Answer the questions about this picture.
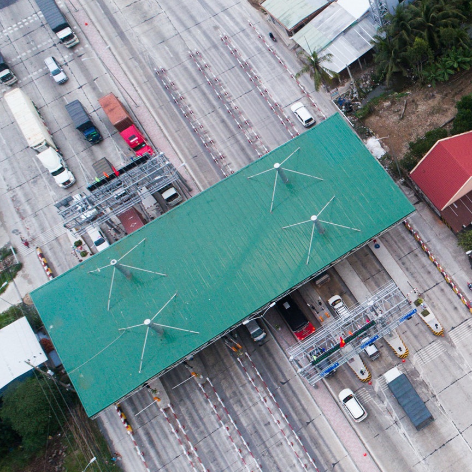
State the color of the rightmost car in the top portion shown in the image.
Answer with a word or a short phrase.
white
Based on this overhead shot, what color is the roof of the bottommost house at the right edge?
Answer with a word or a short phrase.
red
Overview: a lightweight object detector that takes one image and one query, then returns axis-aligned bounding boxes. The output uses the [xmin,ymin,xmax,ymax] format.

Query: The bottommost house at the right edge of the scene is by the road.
[409,130,472,224]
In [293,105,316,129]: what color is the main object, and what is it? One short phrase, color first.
white car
